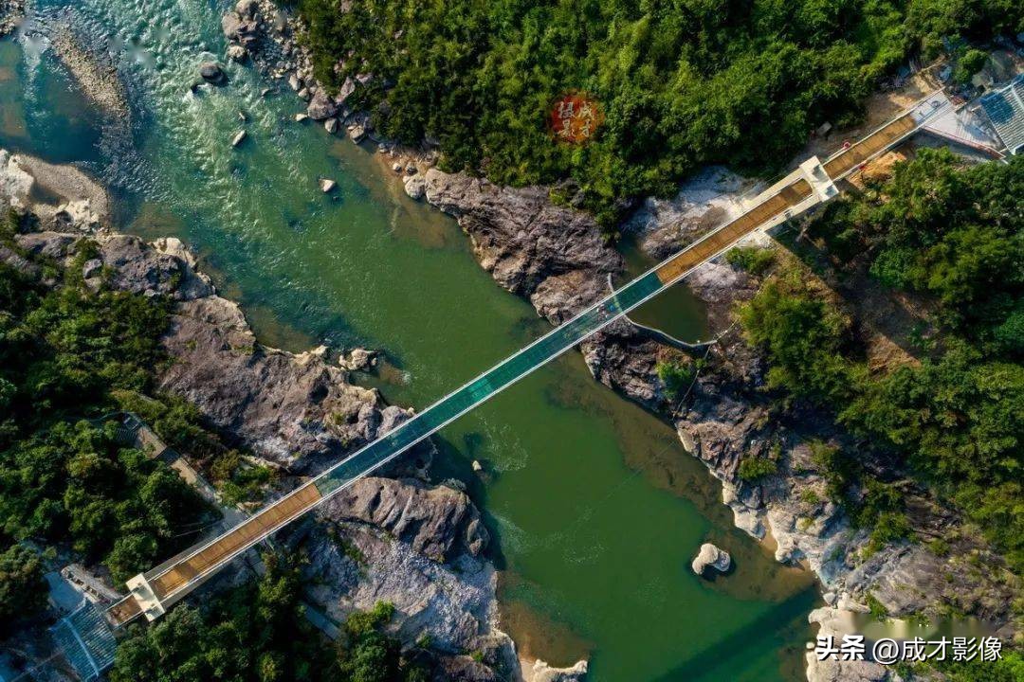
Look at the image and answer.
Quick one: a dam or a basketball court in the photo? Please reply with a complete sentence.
Of the two, only a dam appears.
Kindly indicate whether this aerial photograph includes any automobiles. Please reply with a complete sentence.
No, no automobile is visible in the view.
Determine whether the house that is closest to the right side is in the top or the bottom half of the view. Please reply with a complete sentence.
You can find the house that is closest to the right side in the top half.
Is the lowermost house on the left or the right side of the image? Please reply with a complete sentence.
The lowermost house is on the left side of the image.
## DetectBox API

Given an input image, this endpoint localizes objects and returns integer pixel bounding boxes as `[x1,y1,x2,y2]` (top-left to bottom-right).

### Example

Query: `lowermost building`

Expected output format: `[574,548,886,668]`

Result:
[46,598,131,682]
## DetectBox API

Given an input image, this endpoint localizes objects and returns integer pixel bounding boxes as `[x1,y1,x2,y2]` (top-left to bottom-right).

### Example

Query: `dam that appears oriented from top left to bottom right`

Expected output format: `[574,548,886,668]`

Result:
[607,272,719,347]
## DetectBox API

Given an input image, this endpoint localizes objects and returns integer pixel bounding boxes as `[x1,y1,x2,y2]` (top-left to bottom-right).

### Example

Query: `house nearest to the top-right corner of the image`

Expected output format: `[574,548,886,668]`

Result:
[969,74,1024,163]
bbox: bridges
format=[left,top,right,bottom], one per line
[102,85,962,631]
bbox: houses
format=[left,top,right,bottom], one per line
[46,598,131,682]
[969,74,1024,163]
